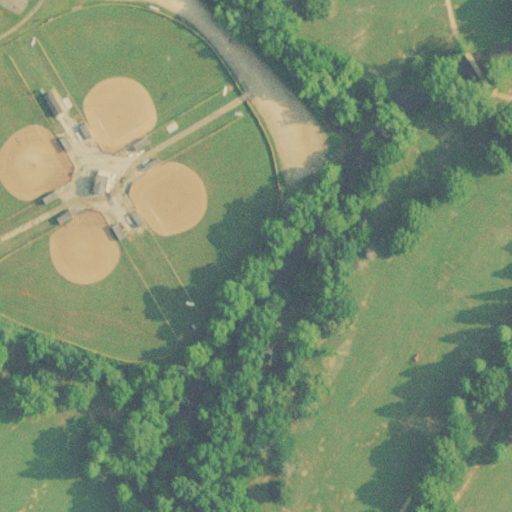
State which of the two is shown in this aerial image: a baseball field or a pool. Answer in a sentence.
The image shows a baseball field.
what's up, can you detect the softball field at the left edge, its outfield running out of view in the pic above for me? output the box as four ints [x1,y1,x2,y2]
[0,54,76,223]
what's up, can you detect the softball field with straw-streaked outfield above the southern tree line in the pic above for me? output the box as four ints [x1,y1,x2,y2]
[0,208,182,363]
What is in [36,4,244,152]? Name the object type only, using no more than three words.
baseball field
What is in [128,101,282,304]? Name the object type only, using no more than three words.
baseball field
